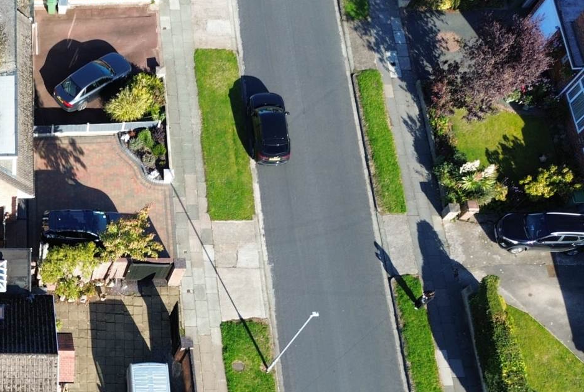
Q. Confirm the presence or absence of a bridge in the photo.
No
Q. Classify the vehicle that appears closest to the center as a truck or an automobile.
automobile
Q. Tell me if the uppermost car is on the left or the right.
left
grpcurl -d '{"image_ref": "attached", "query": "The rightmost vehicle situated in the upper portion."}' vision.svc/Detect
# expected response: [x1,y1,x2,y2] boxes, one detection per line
[244,94,293,168]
